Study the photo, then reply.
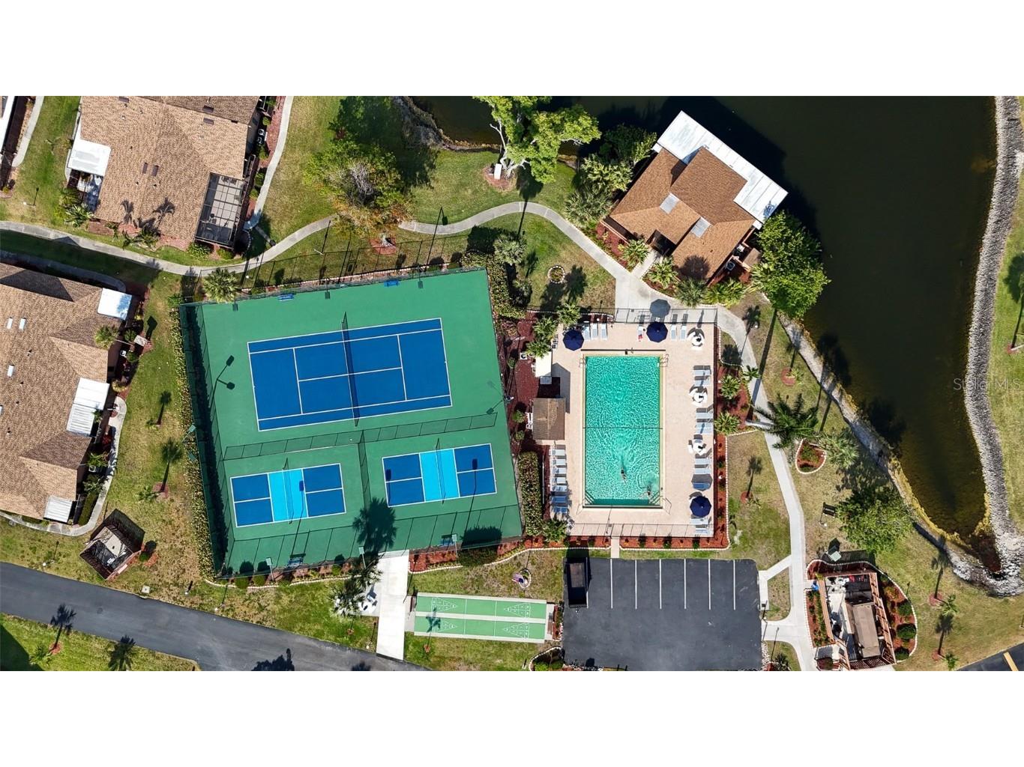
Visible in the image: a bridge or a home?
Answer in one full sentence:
Of the two, only a home appears.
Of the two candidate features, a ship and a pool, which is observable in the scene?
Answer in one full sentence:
There is a pool in the scene.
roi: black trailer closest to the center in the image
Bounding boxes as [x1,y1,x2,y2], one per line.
[566,564,589,619]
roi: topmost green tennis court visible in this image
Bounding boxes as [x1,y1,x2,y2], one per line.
[184,271,512,462]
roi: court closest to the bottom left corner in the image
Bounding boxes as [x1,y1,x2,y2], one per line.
[213,444,370,574]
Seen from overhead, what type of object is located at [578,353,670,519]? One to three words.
swimming pool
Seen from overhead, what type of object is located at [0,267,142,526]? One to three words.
house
